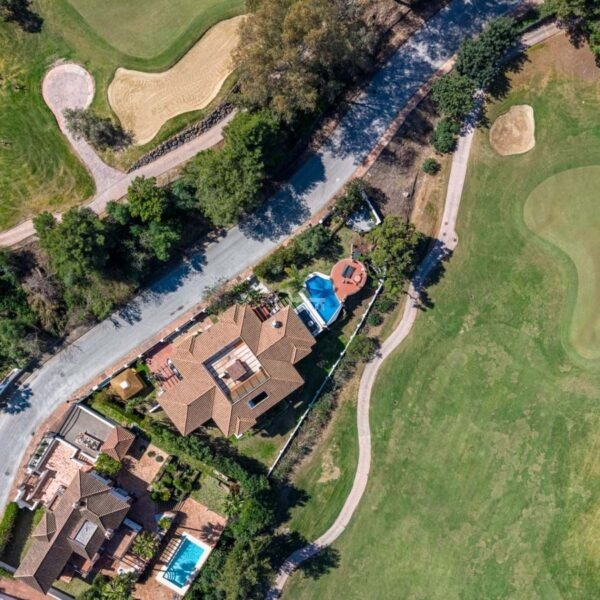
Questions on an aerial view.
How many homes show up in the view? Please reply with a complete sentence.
I count 2 homes.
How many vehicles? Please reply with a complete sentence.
Not a single vehicle can be seen.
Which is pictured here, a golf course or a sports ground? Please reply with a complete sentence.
It's a golf course.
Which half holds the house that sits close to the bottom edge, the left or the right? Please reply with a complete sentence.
You can find the house that sits close to the bottom edge on the left side of the picture.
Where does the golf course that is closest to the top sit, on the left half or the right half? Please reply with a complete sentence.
The golf course that is closest to the top sits on the left side.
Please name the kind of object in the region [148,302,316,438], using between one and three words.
house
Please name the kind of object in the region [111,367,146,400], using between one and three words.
building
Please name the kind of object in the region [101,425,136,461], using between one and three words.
shed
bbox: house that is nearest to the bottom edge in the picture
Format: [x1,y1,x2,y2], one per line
[13,466,133,596]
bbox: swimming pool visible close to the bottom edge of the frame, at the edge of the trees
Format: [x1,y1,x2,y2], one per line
[157,532,210,596]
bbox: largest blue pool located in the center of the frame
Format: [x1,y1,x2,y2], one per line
[299,272,343,327]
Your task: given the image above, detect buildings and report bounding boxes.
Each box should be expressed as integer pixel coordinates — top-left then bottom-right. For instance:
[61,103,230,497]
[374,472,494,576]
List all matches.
[148,302,316,438]
[111,367,146,400]
[101,425,136,461]
[13,466,133,596]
